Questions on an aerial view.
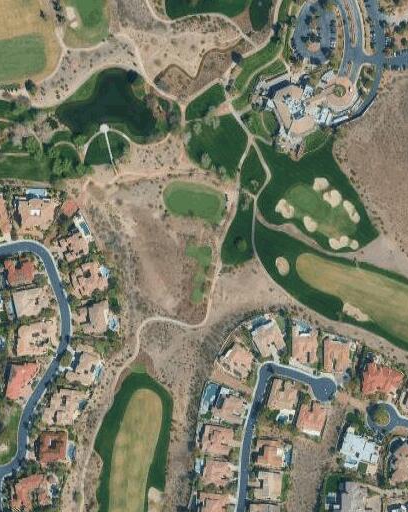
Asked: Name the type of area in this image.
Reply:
residential area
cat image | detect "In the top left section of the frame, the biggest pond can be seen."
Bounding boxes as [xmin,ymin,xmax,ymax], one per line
[58,67,156,147]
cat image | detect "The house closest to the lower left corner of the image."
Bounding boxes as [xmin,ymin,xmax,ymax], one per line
[10,469,55,512]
